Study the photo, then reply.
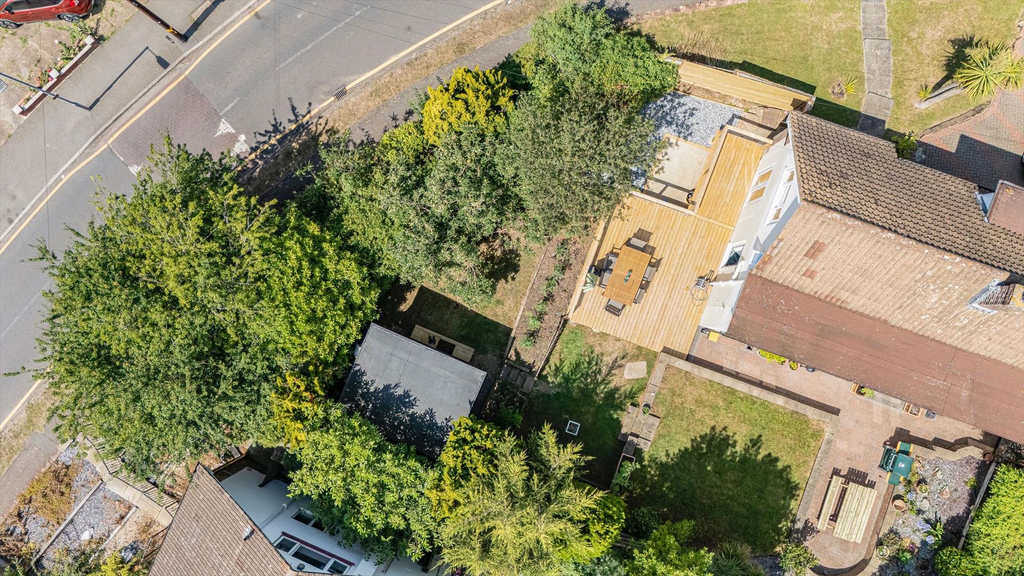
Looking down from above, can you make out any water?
No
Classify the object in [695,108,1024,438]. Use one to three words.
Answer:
house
